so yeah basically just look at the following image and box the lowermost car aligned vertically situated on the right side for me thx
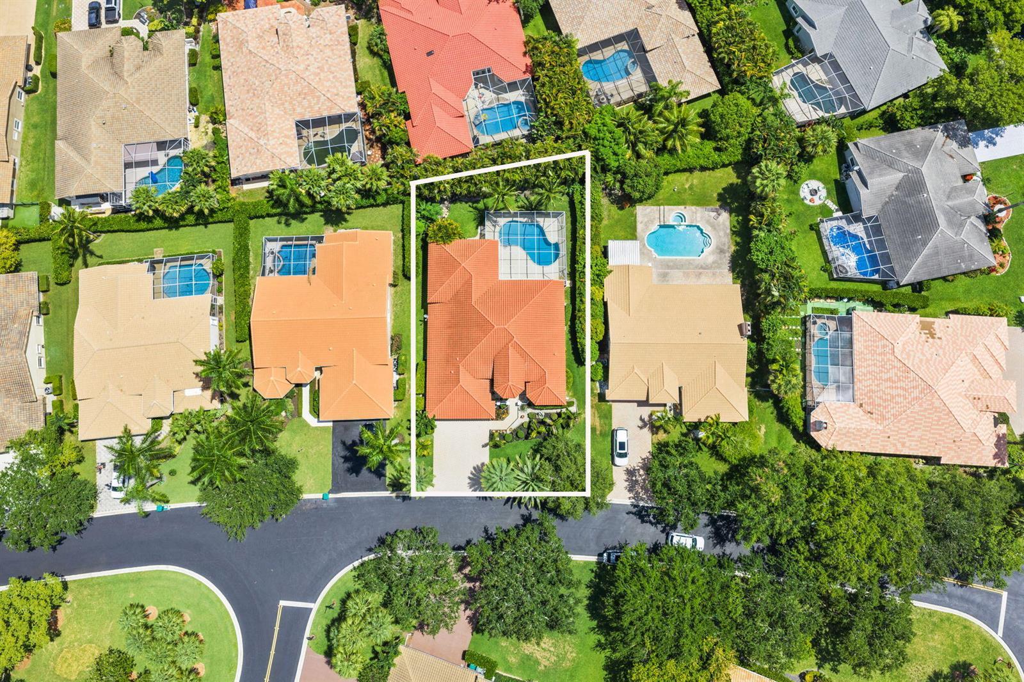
[611,428,629,466]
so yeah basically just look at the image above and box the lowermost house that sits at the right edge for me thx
[800,311,1017,467]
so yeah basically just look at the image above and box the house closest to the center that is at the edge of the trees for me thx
[423,239,566,419]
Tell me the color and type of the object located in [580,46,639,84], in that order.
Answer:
blue swimming pool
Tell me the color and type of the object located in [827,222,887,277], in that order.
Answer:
blue swimming pool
